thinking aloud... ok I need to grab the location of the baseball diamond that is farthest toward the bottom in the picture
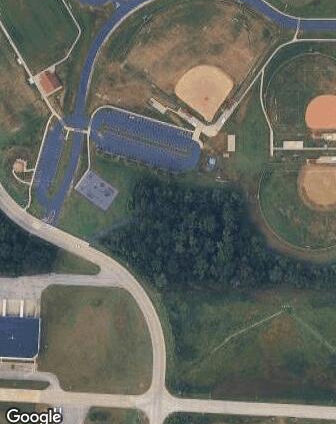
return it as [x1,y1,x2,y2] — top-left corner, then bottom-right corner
[261,162,336,253]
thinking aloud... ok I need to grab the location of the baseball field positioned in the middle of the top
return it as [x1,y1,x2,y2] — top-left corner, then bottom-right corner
[110,0,283,128]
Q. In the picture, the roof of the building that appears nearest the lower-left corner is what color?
blue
